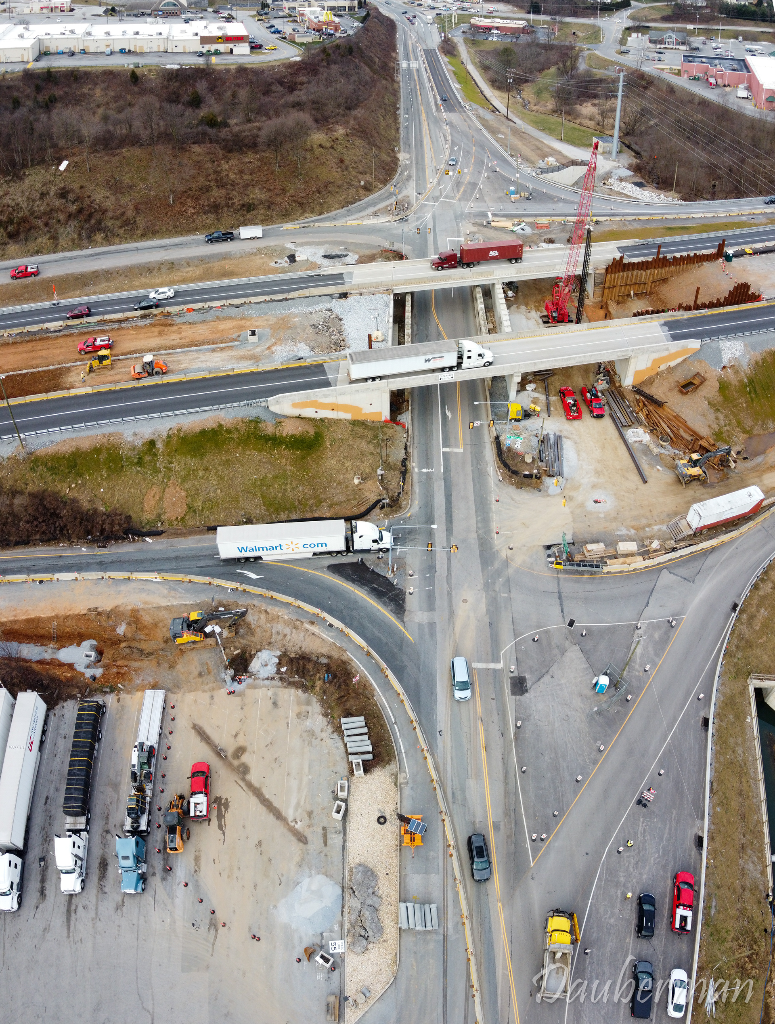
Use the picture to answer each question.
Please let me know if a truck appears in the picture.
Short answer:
Yes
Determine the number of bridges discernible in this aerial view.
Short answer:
two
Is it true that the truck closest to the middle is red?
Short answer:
No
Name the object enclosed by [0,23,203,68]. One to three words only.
building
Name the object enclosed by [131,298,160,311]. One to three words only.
vehicle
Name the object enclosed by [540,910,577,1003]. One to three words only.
truck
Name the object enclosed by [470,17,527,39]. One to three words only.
building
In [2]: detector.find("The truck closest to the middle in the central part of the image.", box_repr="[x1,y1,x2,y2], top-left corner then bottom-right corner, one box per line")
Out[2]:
[329,520,395,556]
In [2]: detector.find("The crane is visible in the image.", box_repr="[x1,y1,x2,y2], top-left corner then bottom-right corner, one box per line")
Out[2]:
[534,137,602,328]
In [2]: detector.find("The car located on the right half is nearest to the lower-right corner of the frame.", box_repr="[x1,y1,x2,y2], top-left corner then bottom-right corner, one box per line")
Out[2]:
[666,969,689,1020]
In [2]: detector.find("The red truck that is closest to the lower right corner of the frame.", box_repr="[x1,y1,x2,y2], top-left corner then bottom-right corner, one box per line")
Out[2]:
[669,872,698,938]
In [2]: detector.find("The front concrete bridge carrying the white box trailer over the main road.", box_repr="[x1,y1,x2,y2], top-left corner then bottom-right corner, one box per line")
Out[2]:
[269,315,699,407]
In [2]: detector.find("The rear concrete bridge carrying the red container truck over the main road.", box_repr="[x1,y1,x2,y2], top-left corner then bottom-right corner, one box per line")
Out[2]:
[322,240,639,291]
